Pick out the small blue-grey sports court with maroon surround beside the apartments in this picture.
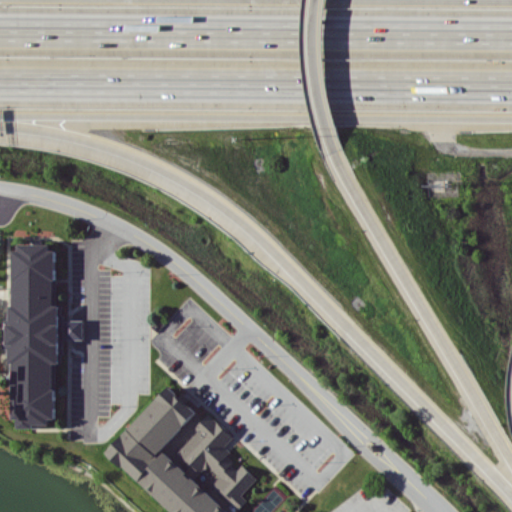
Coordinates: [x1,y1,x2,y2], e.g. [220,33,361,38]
[252,488,287,512]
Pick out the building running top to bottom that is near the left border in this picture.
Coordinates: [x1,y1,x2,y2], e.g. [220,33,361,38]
[1,245,58,430]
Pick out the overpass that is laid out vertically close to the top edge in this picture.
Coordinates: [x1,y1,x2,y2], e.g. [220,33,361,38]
[300,0,344,154]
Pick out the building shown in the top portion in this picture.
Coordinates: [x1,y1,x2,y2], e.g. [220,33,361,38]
[420,172,461,198]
